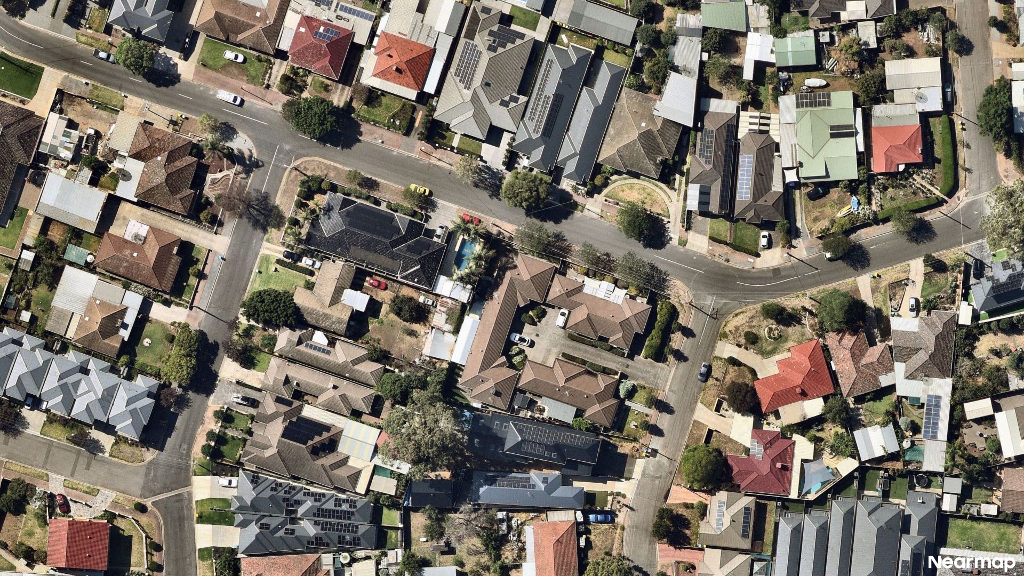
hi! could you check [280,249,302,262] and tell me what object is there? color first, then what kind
black vehicle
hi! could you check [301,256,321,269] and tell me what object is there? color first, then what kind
white vehicle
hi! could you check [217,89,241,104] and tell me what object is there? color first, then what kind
white vehicle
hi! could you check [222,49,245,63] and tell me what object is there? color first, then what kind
white car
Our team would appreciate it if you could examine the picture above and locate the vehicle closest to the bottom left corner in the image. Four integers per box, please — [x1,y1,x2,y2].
[56,491,70,515]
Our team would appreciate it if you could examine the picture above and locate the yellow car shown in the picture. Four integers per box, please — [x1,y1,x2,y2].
[408,183,430,197]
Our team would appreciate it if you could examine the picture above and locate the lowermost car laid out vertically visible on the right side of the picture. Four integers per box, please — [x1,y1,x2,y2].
[698,361,710,384]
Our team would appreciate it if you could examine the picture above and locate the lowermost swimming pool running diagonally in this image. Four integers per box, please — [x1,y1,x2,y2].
[799,466,836,497]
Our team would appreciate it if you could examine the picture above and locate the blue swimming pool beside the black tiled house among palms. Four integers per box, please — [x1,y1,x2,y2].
[454,237,477,271]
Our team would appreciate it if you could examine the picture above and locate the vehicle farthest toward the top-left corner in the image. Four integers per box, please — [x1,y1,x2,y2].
[92,49,115,63]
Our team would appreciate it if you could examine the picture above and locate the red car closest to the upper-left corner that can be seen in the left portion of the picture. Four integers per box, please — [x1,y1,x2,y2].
[366,277,388,290]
